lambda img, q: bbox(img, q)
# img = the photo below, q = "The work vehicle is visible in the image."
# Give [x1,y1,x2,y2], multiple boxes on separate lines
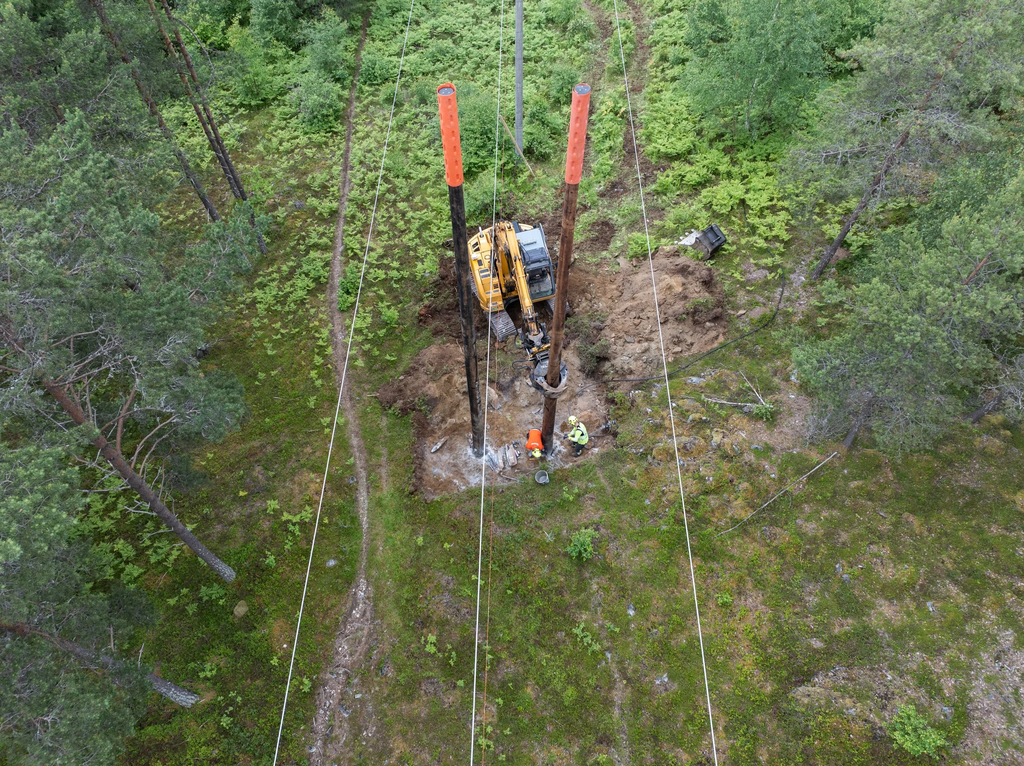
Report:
[469,211,572,397]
